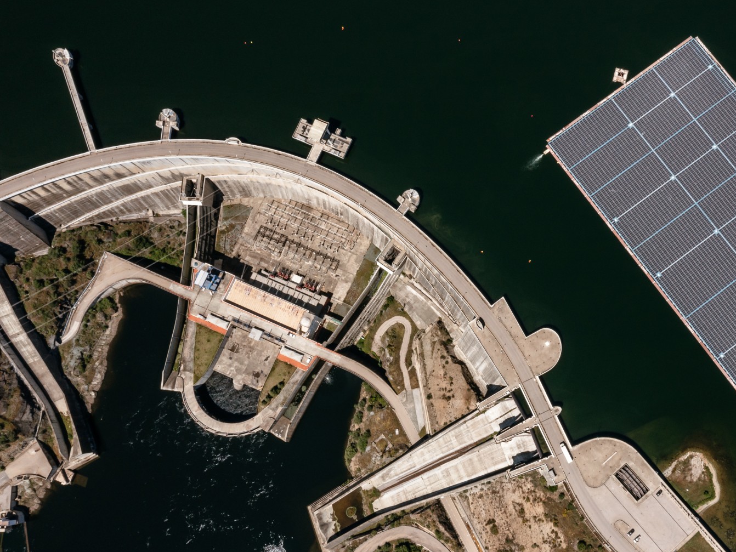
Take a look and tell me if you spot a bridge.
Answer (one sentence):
Yes, there's a bridge down there.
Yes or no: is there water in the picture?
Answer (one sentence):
Yes, some water is visible.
